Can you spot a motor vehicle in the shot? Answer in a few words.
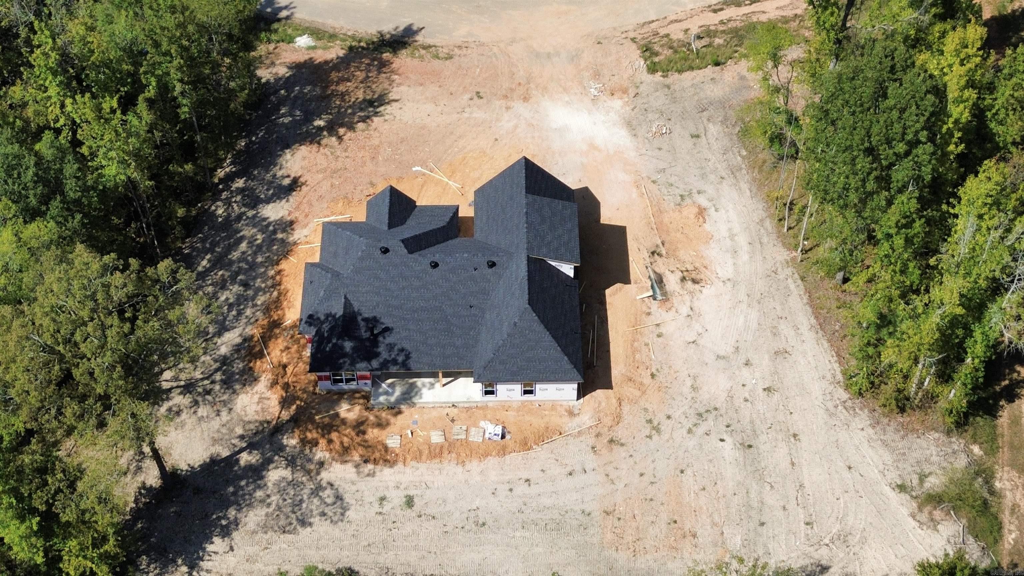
No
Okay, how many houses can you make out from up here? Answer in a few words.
1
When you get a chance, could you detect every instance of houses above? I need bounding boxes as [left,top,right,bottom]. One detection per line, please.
[297,155,585,406]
